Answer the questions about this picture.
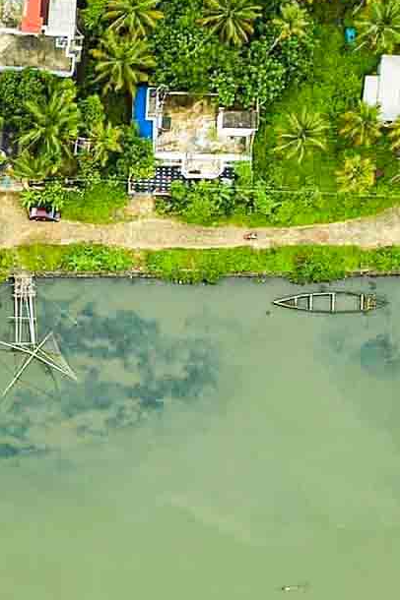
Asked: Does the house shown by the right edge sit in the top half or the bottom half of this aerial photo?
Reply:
top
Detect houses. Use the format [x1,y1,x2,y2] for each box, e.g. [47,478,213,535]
[0,0,85,79]
[145,84,260,184]
[356,54,400,125]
